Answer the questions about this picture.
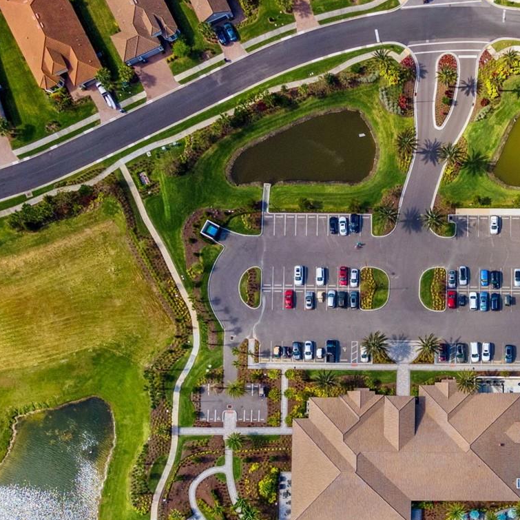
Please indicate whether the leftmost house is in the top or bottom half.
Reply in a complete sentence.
Seen from above, the leftmost house lies in the top half of the view.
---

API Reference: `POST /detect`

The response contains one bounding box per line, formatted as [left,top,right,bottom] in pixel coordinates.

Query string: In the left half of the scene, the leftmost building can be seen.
[0,0,103,94]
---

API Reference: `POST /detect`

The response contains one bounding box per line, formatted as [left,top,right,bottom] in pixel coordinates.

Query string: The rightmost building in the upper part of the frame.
[184,0,228,32]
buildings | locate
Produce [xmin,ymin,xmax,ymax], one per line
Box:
[184,0,228,32]
[107,0,180,71]
[0,0,103,94]
[292,380,520,520]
